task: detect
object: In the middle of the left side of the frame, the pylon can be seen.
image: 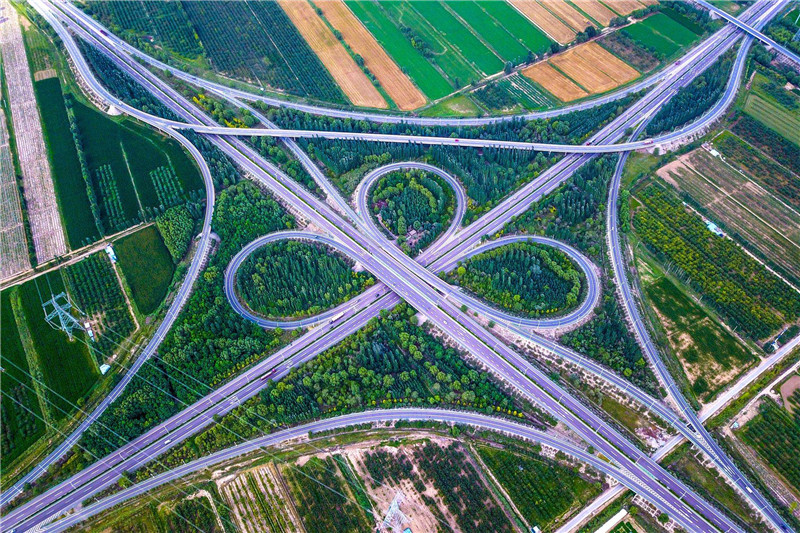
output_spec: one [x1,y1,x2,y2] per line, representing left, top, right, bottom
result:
[44,292,84,338]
